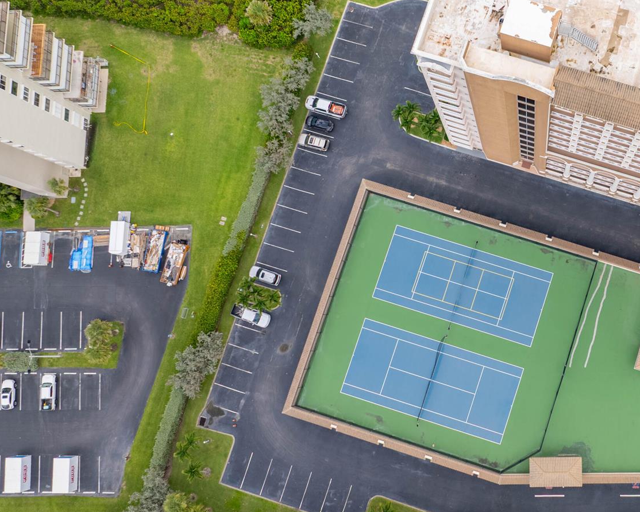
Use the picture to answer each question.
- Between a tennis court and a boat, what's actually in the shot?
tennis court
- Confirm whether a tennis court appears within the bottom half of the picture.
Yes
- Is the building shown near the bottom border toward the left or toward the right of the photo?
right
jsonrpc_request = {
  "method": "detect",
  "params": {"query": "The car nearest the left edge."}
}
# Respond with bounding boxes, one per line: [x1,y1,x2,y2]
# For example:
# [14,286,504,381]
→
[0,378,18,412]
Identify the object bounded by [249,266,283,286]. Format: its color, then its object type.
white car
